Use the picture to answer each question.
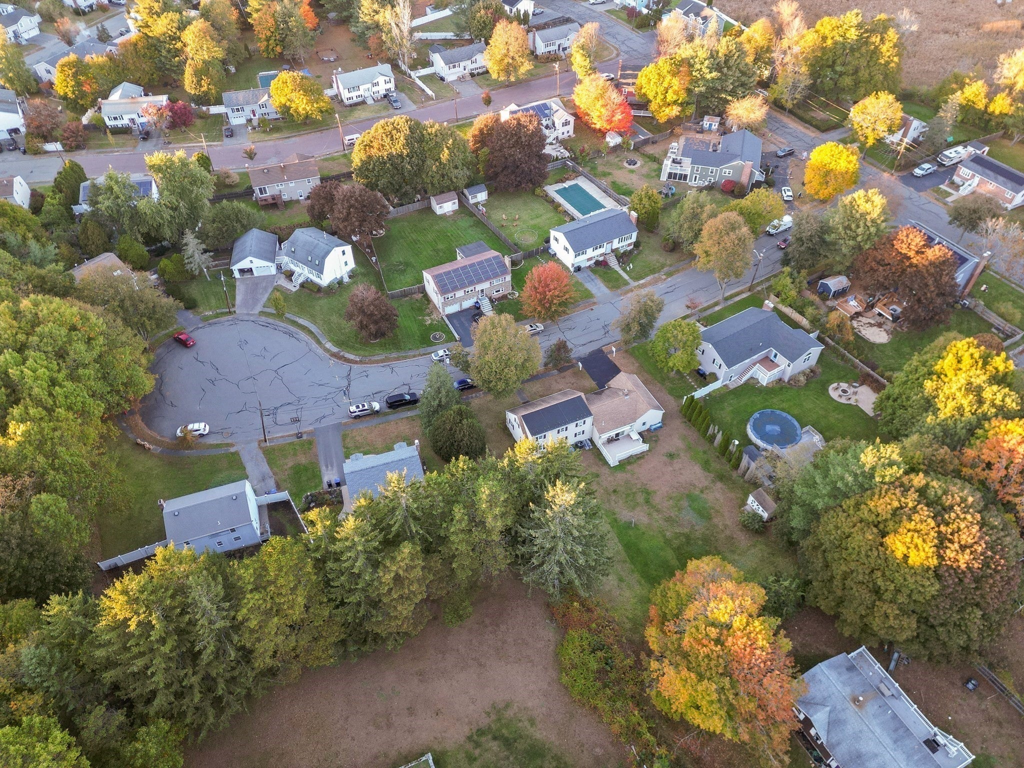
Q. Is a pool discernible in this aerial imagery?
Yes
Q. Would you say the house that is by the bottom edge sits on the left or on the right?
right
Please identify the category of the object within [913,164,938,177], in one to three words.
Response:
vehicle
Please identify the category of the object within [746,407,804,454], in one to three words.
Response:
swimming pool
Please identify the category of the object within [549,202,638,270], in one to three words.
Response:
house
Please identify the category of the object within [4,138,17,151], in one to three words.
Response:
vehicle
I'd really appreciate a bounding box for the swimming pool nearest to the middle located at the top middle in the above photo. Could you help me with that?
[553,182,607,216]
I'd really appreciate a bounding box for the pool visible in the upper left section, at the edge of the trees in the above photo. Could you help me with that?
[257,70,282,87]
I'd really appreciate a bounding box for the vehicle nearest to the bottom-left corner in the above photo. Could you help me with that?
[175,419,210,439]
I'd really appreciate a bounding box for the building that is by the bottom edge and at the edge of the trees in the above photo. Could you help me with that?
[802,644,980,768]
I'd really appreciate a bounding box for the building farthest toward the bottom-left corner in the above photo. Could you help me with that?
[155,480,272,555]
